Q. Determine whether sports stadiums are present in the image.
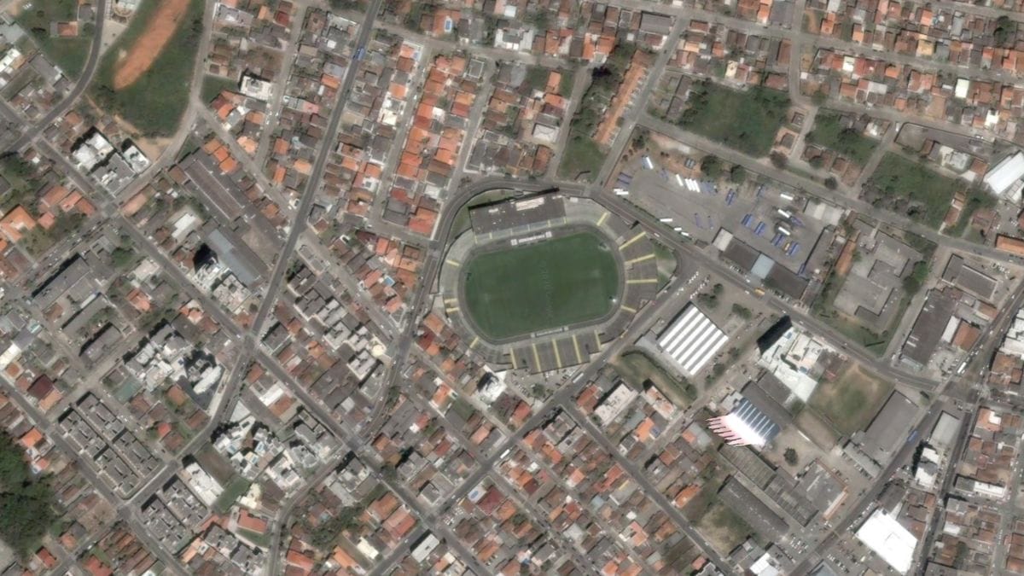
Yes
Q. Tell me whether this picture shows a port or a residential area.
residential area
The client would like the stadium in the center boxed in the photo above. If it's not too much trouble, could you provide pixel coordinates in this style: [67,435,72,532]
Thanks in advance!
[425,186,671,376]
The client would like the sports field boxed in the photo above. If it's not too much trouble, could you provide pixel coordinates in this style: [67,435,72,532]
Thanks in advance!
[464,228,620,339]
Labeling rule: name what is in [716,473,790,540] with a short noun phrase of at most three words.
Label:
building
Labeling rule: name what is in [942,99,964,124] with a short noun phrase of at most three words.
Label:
house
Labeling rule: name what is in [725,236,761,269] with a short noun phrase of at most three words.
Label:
shed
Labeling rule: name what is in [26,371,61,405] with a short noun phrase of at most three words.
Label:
house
